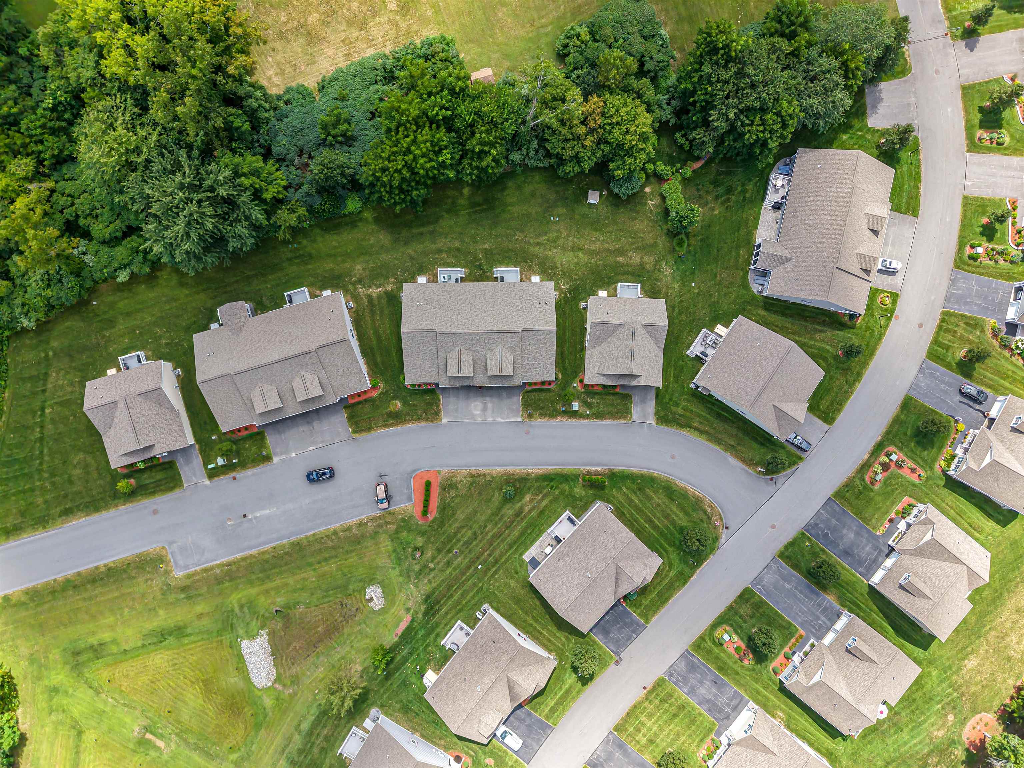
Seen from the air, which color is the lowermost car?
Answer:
white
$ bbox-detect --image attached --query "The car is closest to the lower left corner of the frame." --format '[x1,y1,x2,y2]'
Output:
[307,467,336,482]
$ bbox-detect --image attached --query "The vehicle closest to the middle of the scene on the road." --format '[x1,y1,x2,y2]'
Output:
[376,481,390,510]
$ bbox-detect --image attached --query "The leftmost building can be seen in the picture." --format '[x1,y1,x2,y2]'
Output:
[83,352,191,469]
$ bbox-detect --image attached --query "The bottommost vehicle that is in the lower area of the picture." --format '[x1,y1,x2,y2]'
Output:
[496,724,524,751]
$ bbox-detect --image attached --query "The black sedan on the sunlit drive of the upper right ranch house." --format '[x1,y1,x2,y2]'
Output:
[958,382,987,405]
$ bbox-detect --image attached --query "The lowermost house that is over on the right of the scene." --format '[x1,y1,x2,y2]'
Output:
[704,702,840,768]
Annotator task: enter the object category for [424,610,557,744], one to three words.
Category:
house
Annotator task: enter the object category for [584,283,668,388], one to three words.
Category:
house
